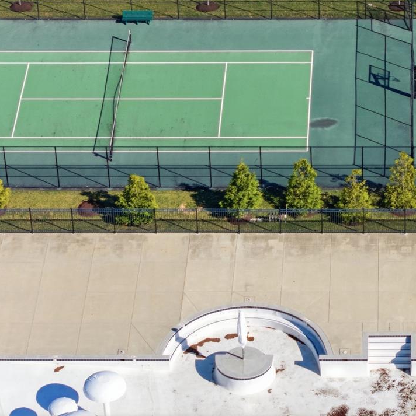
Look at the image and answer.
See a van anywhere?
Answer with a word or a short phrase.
No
